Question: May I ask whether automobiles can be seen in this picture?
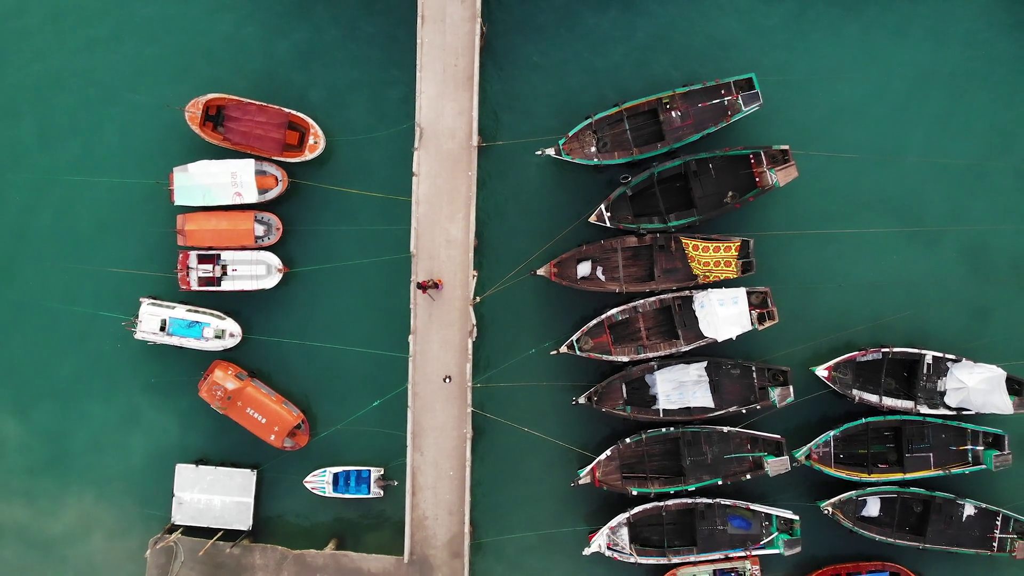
No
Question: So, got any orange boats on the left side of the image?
Yes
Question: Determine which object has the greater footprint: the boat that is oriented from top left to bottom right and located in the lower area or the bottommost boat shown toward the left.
the boat that is oriented from top left to bottom right and located in the lower area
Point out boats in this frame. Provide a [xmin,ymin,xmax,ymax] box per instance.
[176,210,286,249]
[810,480,1024,558]
[550,287,779,365]
[531,231,756,293]
[588,145,799,233]
[536,73,762,171]
[572,356,794,424]
[571,423,791,496]
[303,465,398,498]
[799,558,912,576]
[168,159,291,207]
[174,250,293,292]
[582,490,801,566]
[786,414,1012,483]
[121,294,247,352]
[659,556,761,576]
[806,343,1024,415]
[176,93,328,164]
[197,359,312,450]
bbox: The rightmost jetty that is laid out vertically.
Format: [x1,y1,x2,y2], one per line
[404,0,485,576]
